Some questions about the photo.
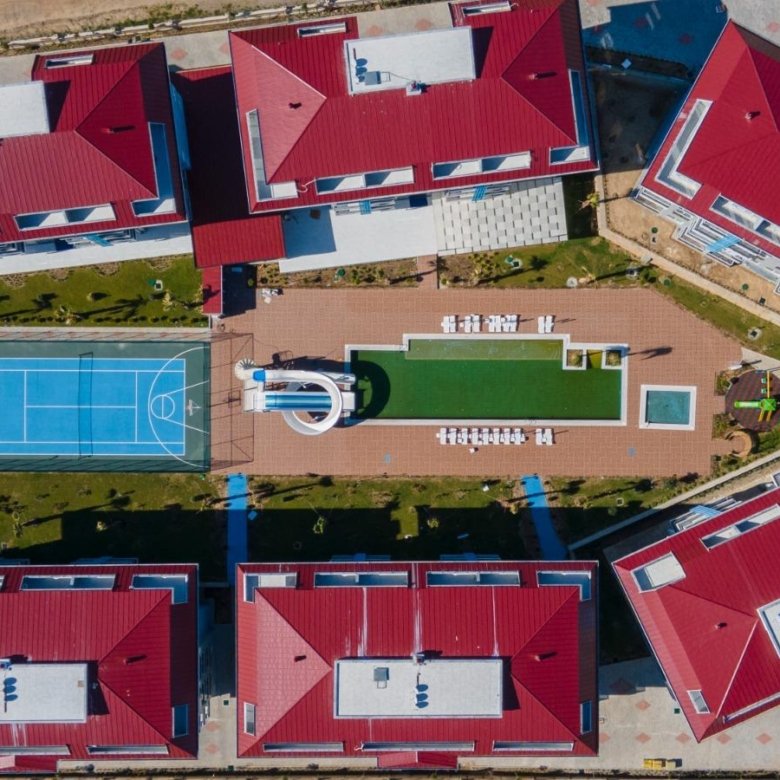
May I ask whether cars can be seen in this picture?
No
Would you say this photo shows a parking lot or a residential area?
residential area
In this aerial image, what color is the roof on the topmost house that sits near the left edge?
red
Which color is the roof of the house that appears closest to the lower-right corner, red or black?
red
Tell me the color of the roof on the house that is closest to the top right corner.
red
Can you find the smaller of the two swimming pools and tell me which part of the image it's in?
right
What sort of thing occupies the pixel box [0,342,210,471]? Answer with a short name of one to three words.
sports court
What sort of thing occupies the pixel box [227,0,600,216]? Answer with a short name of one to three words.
house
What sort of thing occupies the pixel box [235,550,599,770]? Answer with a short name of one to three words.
house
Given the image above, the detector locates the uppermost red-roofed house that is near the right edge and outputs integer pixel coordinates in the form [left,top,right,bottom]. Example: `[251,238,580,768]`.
[631,18,780,301]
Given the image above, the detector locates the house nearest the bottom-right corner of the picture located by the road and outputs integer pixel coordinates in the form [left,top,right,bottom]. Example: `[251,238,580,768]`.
[610,462,780,745]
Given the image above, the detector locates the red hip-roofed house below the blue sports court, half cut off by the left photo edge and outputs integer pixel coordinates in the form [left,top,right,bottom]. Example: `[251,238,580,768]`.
[0,550,216,770]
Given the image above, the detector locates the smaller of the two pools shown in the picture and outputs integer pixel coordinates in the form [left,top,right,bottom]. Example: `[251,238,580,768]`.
[640,385,696,430]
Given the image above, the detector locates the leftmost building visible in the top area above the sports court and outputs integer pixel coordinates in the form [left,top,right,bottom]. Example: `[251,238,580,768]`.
[0,37,189,256]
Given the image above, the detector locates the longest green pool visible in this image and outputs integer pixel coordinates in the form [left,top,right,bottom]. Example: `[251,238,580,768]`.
[345,334,628,426]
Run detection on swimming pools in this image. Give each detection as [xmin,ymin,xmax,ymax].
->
[640,385,696,430]
[345,334,628,426]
